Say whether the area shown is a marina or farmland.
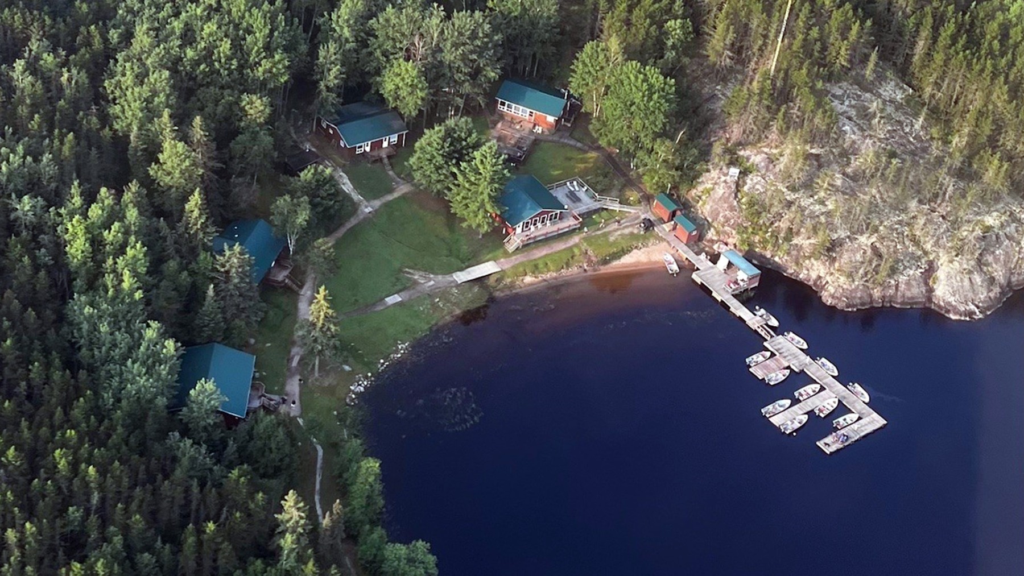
marina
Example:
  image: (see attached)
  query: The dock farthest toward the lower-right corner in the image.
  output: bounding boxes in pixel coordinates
[750,335,888,455]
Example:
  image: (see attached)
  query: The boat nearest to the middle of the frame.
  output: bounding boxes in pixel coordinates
[664,254,678,276]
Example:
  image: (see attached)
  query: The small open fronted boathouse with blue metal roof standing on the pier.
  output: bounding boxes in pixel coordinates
[713,249,761,294]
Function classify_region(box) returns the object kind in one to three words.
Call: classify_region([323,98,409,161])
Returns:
building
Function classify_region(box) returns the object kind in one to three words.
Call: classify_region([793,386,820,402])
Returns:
boat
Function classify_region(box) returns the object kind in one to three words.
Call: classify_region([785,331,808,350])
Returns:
boat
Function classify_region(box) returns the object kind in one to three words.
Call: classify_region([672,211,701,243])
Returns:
shed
